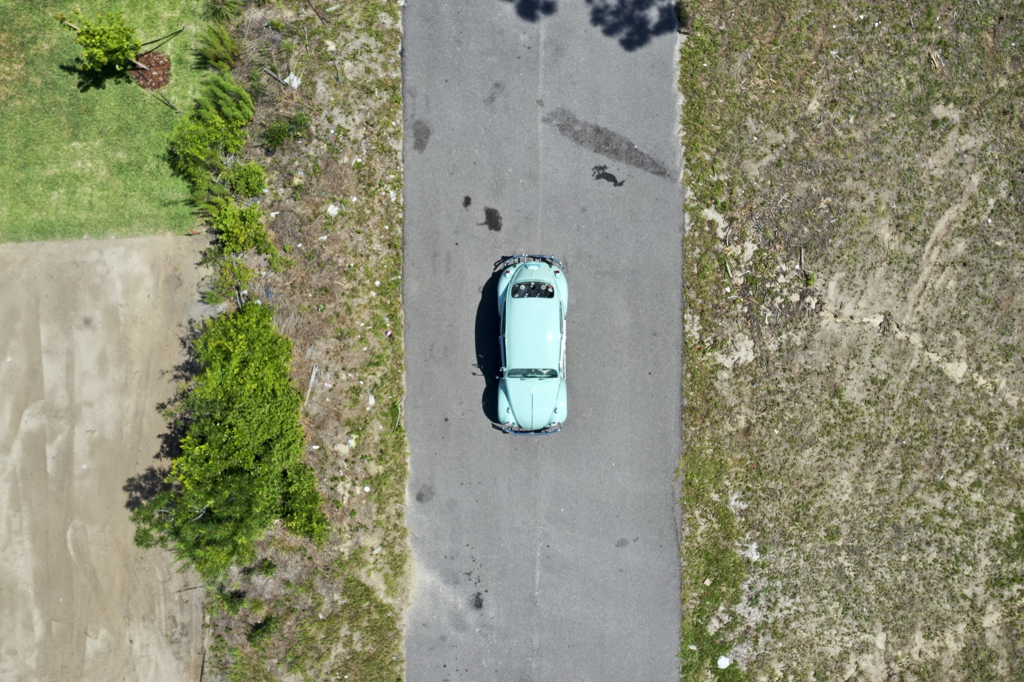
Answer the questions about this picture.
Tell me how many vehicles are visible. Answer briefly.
one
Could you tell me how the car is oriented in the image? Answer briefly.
vertically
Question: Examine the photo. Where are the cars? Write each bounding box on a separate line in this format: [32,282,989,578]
[496,253,568,437]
